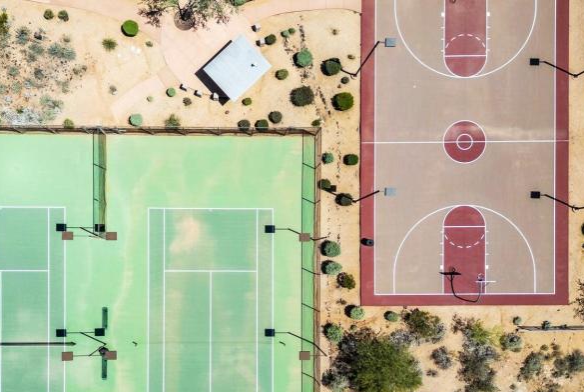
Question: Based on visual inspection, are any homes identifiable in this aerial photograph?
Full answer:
No, there appears to be no home in this shot.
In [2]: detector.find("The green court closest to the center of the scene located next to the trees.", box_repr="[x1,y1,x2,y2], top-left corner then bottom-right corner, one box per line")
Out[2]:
[105,134,314,392]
